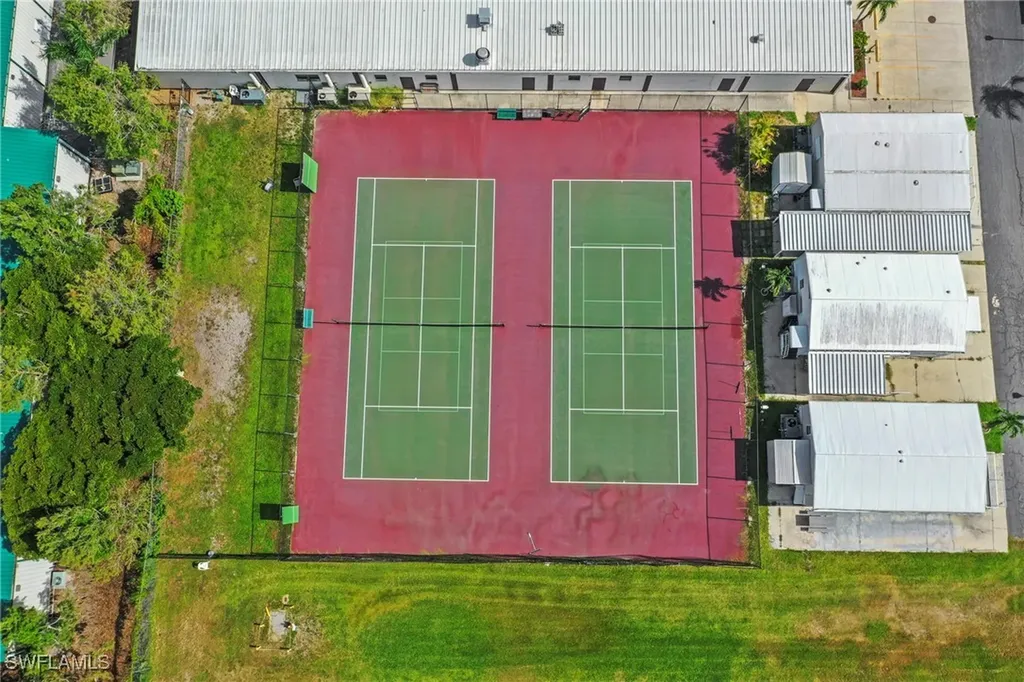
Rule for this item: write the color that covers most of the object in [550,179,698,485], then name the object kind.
green tennis court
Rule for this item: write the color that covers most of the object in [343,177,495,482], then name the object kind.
green tennis court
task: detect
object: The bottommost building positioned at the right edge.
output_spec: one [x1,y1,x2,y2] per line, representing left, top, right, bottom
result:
[798,400,988,515]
